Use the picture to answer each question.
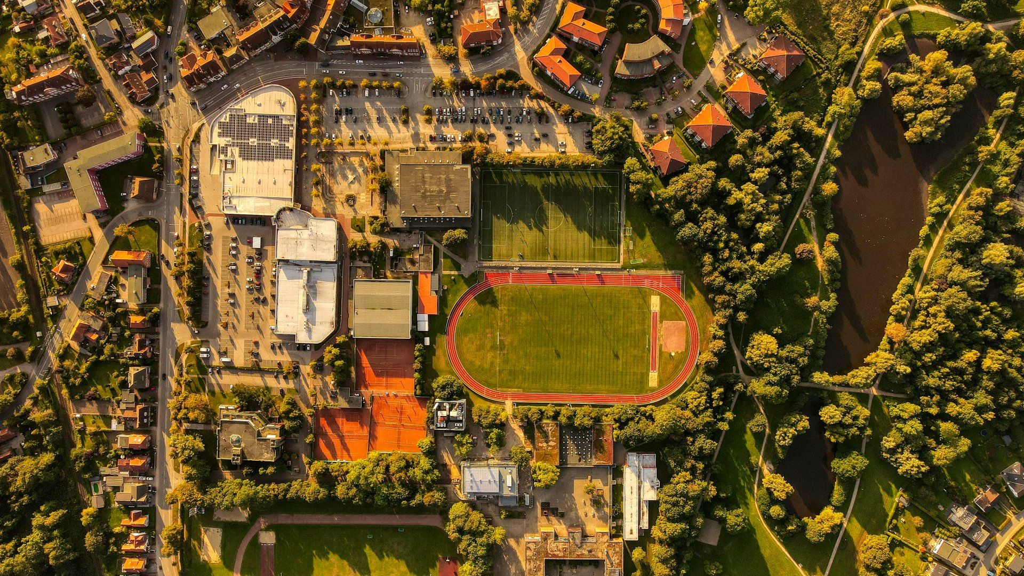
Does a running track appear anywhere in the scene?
Yes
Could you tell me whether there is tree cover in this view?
Yes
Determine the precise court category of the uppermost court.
tennis court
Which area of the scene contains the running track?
center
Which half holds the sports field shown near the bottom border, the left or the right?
left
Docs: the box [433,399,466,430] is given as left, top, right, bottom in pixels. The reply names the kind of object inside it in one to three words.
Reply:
building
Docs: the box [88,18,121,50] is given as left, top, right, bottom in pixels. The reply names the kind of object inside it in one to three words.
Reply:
house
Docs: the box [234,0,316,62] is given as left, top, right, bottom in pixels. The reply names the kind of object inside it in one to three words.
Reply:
building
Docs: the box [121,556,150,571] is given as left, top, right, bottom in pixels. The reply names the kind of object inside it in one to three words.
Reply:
house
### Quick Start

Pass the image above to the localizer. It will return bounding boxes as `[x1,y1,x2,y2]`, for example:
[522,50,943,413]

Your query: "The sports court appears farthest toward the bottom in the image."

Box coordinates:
[200,527,222,563]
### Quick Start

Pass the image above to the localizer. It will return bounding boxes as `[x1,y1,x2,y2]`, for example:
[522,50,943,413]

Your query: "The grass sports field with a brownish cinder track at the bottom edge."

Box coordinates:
[232,514,465,576]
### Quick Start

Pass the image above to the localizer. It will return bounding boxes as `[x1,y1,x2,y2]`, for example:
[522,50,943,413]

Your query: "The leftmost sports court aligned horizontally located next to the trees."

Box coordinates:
[213,508,249,522]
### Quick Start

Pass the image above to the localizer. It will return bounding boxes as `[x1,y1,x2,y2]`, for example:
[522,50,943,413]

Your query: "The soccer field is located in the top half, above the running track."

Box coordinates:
[476,168,623,270]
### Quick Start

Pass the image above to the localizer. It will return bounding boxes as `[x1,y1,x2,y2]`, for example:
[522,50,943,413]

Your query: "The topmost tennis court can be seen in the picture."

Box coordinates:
[355,338,414,395]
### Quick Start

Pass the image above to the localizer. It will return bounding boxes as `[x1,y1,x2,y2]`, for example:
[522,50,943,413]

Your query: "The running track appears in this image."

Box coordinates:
[447,269,699,404]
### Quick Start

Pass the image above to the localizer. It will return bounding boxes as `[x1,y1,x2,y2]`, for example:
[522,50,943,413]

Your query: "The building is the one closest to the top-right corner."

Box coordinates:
[755,35,805,83]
